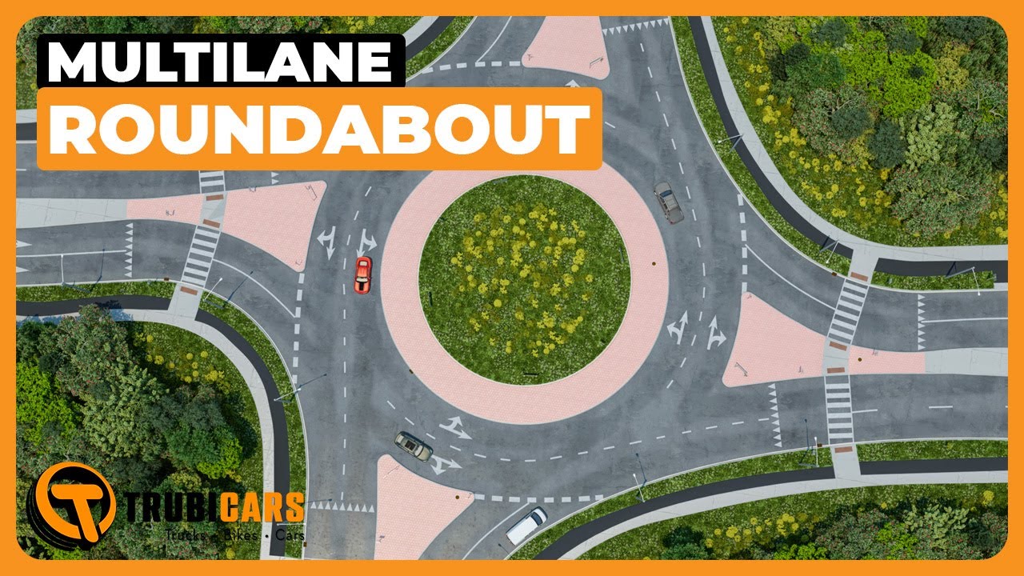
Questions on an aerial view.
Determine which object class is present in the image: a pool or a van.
van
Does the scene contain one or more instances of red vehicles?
Yes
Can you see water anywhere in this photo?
No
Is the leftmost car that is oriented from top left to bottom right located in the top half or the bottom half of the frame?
bottom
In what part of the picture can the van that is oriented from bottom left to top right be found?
bottom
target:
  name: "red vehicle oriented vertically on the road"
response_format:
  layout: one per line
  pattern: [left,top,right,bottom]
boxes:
[354,257,372,295]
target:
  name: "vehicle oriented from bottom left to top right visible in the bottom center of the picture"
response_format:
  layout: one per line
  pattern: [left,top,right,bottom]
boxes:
[506,508,548,547]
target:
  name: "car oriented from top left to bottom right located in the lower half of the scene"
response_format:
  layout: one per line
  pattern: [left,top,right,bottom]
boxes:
[395,430,432,462]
